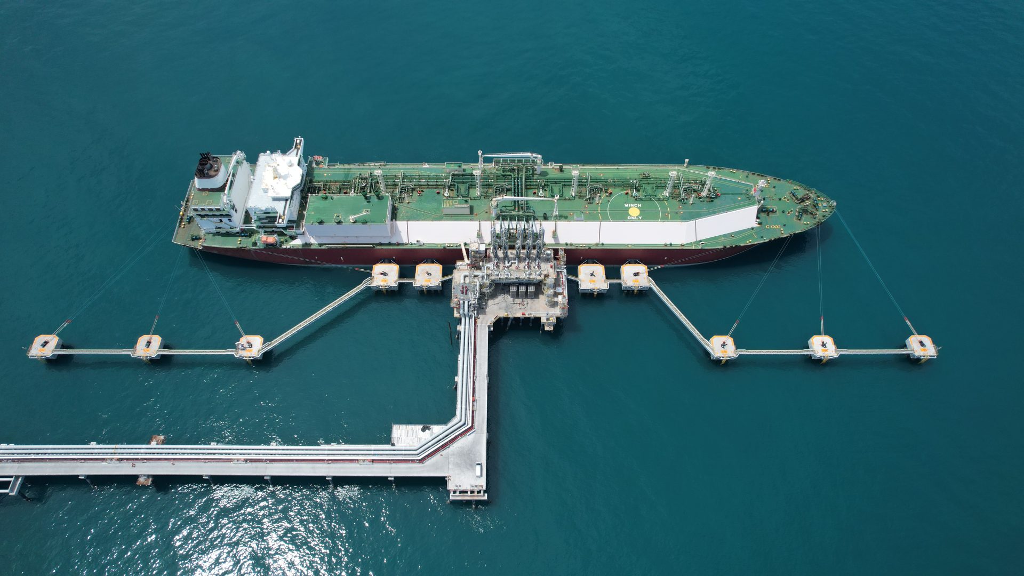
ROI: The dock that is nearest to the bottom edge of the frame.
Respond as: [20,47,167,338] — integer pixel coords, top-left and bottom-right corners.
[0,324,492,491]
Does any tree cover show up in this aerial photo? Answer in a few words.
No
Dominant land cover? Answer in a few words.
water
